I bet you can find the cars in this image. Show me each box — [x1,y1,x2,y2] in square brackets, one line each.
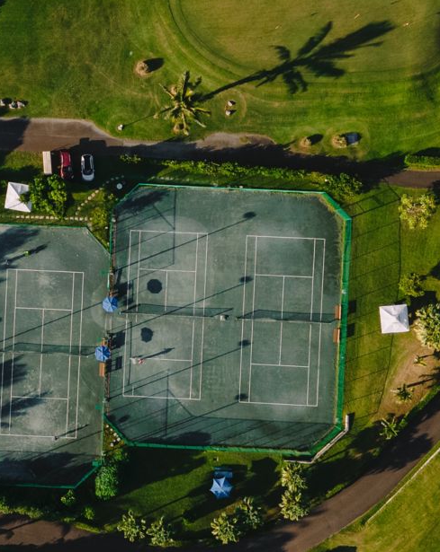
[59,150,74,174]
[80,154,96,182]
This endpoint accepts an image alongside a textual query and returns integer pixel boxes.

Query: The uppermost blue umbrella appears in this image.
[103,296,119,312]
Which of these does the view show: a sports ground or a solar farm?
sports ground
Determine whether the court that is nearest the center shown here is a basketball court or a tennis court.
tennis court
